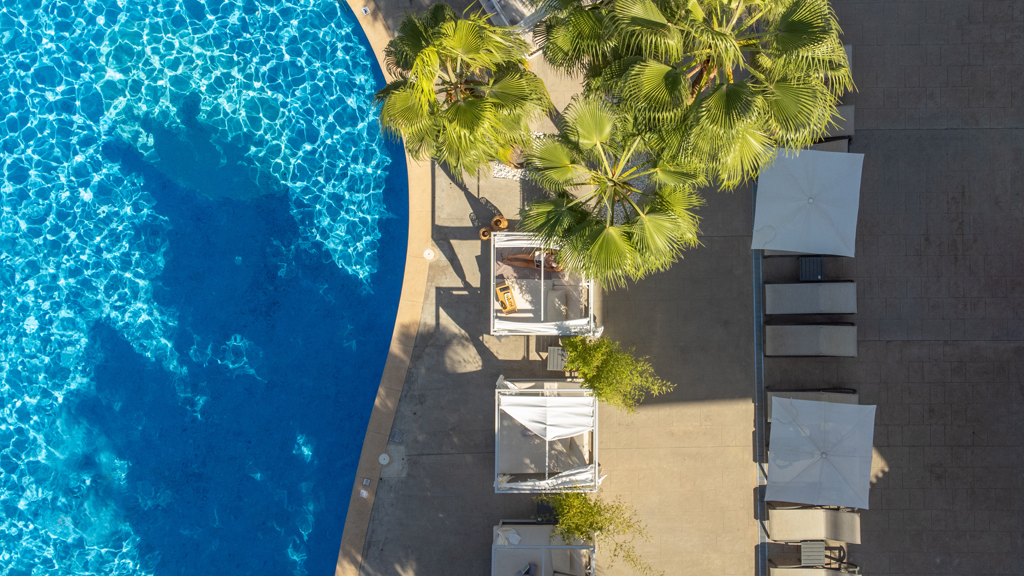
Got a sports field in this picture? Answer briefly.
No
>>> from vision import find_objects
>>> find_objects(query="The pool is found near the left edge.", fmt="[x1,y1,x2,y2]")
[0,0,409,576]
